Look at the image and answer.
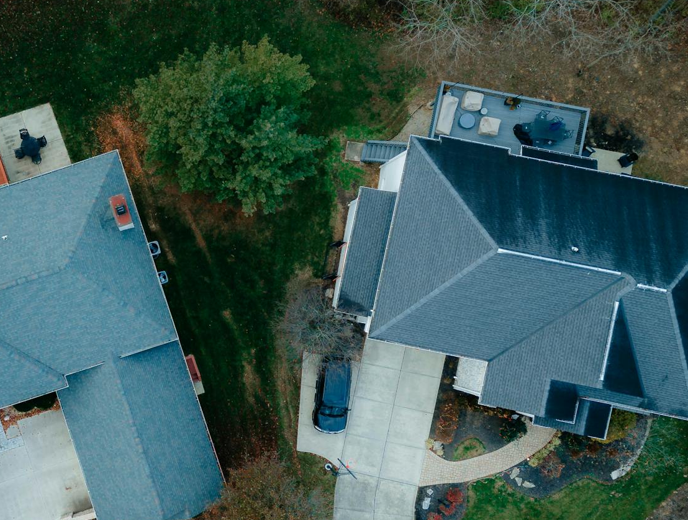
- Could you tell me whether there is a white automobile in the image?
No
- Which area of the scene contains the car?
bottom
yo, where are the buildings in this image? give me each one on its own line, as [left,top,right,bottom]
[0,148,228,520]
[324,133,688,441]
